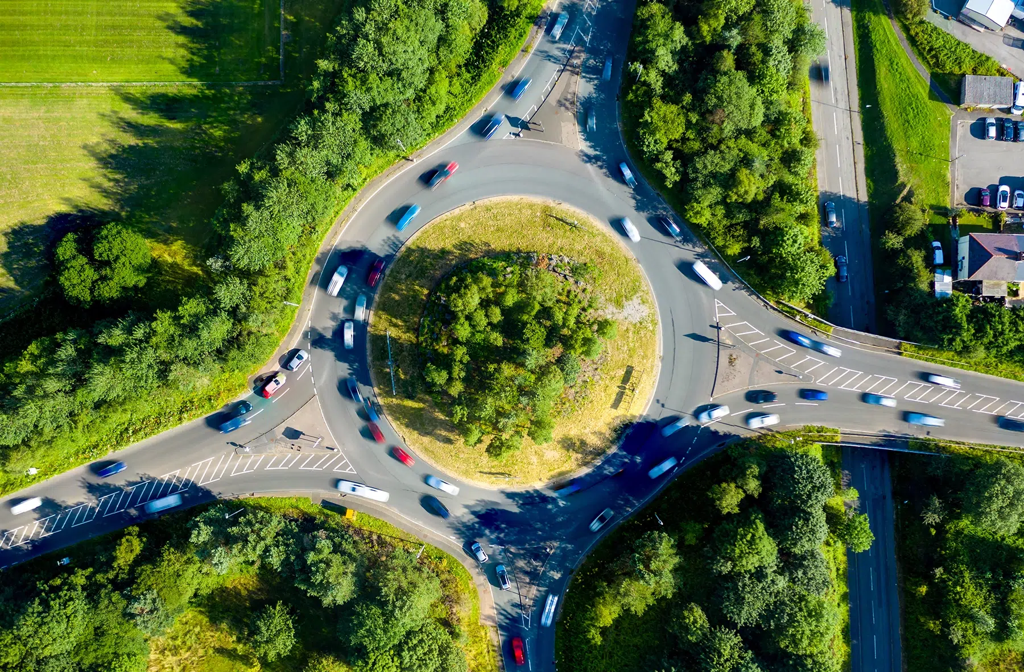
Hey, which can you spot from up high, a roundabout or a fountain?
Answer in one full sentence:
There is a roundabout in the scene.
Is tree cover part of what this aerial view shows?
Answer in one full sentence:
Yes, tree cover can be seen from above here.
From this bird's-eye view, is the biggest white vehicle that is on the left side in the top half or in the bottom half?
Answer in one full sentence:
Seen from above, the biggest white vehicle that is on the left side lies in the bottom half of the view.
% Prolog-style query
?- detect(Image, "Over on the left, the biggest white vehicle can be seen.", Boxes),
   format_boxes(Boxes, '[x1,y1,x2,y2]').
[339,478,389,503]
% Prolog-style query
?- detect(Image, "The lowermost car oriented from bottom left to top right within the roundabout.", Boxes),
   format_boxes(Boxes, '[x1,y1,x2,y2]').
[588,507,614,533]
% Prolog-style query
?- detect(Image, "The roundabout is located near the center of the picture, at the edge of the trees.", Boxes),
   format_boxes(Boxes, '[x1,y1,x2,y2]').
[303,123,756,555]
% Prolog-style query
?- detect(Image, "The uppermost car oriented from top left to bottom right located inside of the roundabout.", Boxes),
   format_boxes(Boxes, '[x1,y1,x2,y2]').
[617,161,639,188]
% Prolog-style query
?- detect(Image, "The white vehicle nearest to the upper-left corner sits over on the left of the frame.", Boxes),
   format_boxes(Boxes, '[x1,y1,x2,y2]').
[326,265,350,296]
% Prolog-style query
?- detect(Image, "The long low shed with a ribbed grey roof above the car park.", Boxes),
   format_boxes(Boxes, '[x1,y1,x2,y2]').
[957,74,1014,109]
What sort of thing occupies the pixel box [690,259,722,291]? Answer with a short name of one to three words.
van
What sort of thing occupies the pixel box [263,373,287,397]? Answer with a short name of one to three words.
car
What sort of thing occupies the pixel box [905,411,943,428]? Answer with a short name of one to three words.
vehicle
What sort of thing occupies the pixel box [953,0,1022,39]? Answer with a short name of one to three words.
building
